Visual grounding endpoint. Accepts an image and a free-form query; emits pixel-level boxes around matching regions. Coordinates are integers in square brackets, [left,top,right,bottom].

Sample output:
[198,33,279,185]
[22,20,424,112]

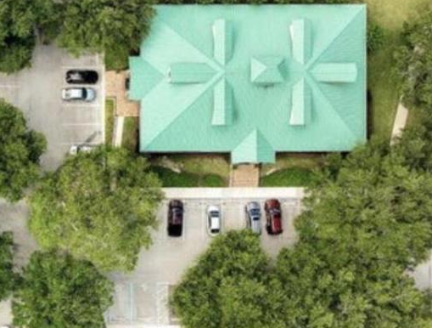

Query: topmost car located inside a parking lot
[64,69,98,85]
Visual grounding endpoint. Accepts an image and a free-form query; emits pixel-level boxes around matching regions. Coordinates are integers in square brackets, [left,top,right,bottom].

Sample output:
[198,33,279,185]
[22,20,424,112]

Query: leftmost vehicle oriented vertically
[167,199,185,236]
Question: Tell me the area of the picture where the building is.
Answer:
top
